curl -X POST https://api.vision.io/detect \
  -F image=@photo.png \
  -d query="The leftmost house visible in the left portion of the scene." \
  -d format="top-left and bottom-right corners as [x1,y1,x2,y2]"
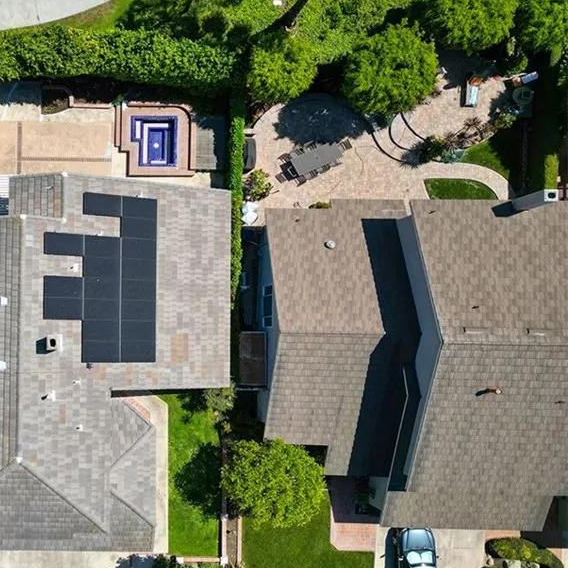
[0,174,232,552]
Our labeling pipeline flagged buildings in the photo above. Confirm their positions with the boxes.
[256,187,568,528]
[0,174,232,552]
